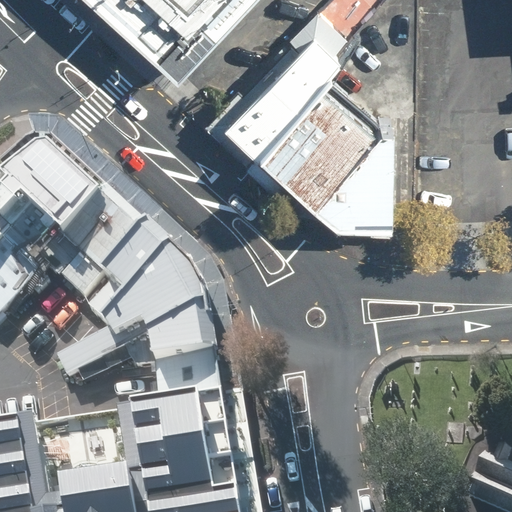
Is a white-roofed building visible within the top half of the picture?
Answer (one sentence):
Yes, you'll find a white-roofed building within the top half of the picture.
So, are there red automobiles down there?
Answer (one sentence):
Yes, there's a red automobile down there.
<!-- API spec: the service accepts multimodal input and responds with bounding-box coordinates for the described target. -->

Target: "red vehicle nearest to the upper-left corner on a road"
[117,145,146,173]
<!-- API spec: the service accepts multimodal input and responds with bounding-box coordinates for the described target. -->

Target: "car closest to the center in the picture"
[228,192,258,223]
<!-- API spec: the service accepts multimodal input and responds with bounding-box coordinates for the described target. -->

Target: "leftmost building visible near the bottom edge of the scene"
[0,410,63,512]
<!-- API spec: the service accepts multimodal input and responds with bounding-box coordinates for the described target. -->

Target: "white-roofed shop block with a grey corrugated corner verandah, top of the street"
[56,0,266,92]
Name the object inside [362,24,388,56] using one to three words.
car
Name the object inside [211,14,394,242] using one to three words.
building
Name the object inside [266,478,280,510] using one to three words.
car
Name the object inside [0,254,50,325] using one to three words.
house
